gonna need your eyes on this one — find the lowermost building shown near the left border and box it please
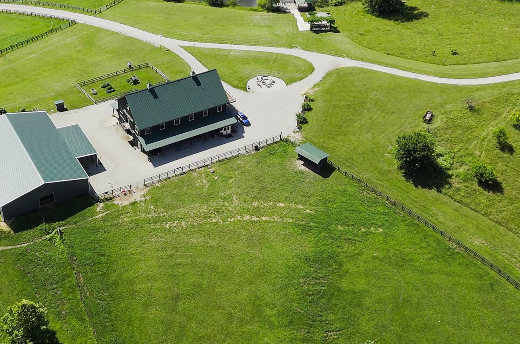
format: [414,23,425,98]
[0,111,99,221]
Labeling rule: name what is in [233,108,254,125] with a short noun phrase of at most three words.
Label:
car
